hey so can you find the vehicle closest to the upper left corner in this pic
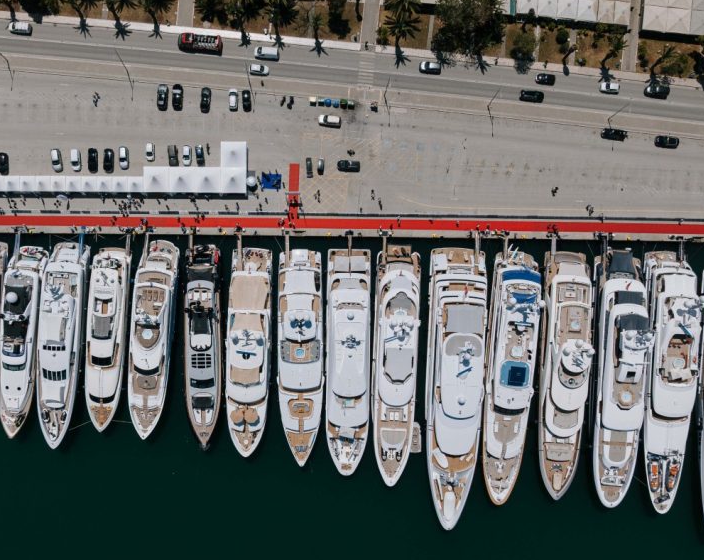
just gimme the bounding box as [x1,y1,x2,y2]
[8,20,32,34]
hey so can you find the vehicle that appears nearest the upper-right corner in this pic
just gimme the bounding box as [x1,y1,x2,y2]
[646,83,672,96]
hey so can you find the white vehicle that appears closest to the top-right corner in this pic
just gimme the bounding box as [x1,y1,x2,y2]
[599,80,622,92]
